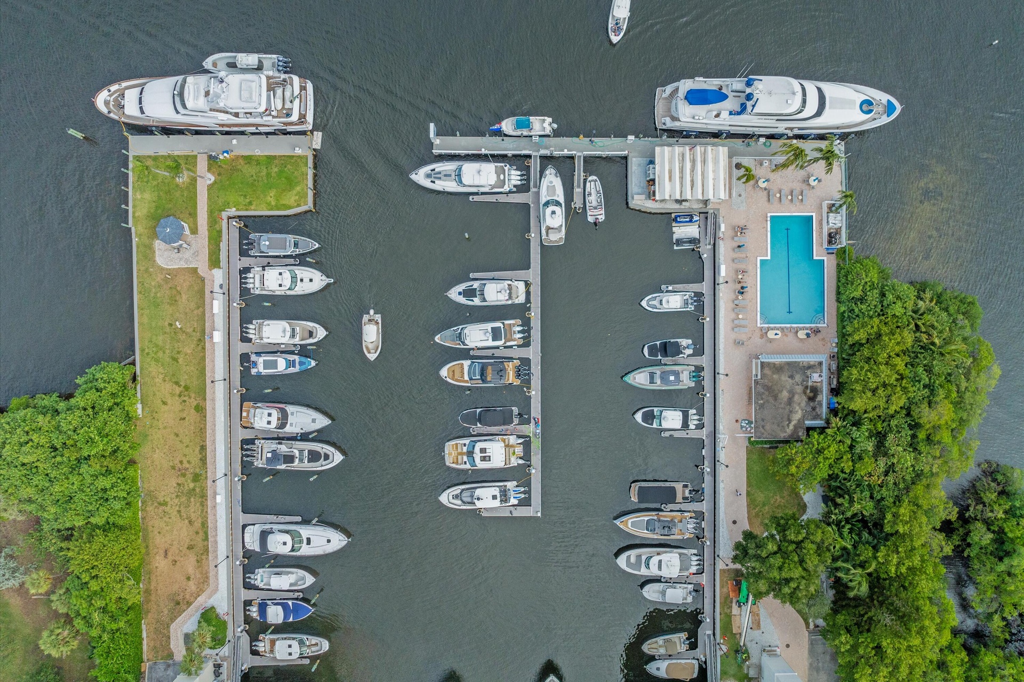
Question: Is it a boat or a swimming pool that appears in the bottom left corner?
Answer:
boat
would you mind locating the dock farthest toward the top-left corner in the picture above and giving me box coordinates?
[129,135,315,157]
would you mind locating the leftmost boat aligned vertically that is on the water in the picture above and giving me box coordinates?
[363,300,382,361]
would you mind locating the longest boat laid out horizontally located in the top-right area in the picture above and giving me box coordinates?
[653,60,909,134]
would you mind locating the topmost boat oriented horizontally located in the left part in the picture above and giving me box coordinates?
[202,51,294,75]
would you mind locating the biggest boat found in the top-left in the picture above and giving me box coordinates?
[93,72,315,130]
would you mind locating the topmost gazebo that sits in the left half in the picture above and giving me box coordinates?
[150,211,189,243]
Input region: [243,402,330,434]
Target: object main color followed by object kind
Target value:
white boat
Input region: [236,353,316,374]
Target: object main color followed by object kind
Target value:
white boat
